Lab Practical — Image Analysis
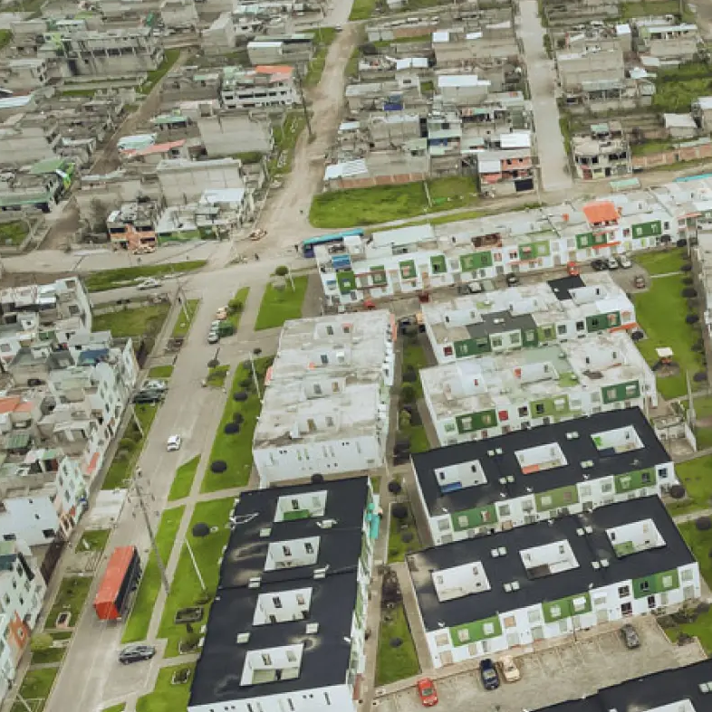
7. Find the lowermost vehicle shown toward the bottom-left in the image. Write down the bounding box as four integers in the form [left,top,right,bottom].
[118,645,153,663]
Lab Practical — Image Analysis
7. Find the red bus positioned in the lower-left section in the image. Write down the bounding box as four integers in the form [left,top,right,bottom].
[92,553,136,625]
